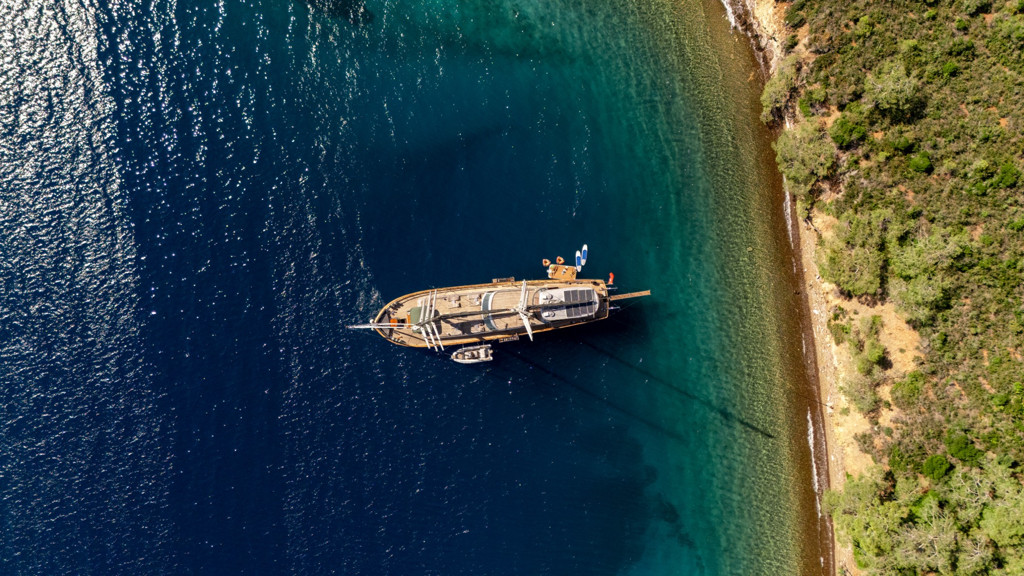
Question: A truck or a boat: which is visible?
boat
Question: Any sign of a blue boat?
No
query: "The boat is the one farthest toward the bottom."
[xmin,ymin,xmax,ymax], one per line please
[452,338,499,364]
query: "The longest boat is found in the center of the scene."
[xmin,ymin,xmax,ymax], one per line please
[350,277,651,351]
